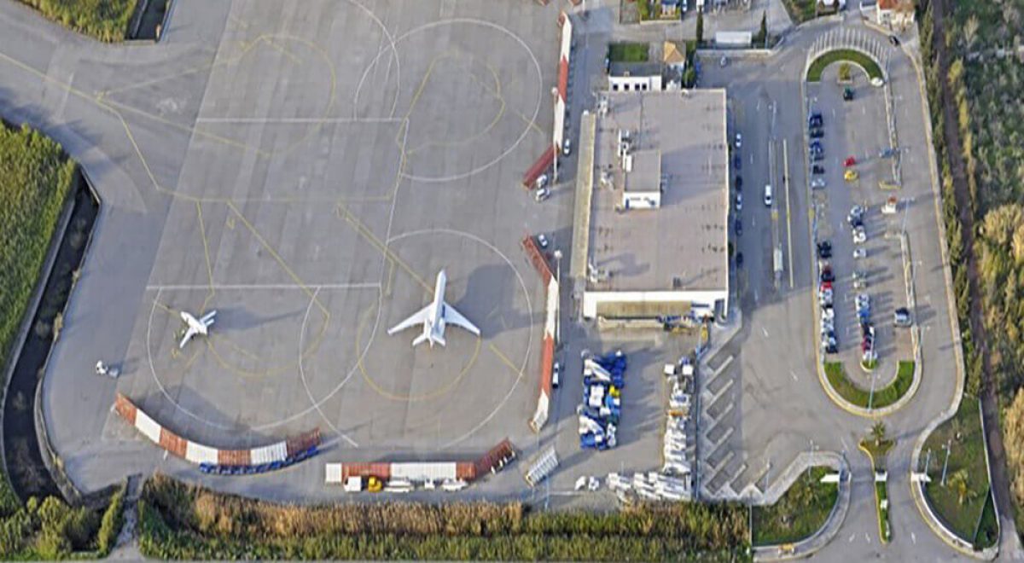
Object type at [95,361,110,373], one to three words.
vehicle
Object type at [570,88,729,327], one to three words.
building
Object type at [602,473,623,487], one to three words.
vehicle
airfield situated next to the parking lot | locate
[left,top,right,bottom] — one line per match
[0,0,727,509]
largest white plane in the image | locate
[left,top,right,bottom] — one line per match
[385,271,481,345]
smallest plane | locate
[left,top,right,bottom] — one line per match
[173,312,219,345]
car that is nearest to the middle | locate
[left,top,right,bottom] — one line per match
[537,236,549,248]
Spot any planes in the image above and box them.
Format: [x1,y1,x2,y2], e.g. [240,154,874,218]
[385,271,481,345]
[173,312,219,345]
